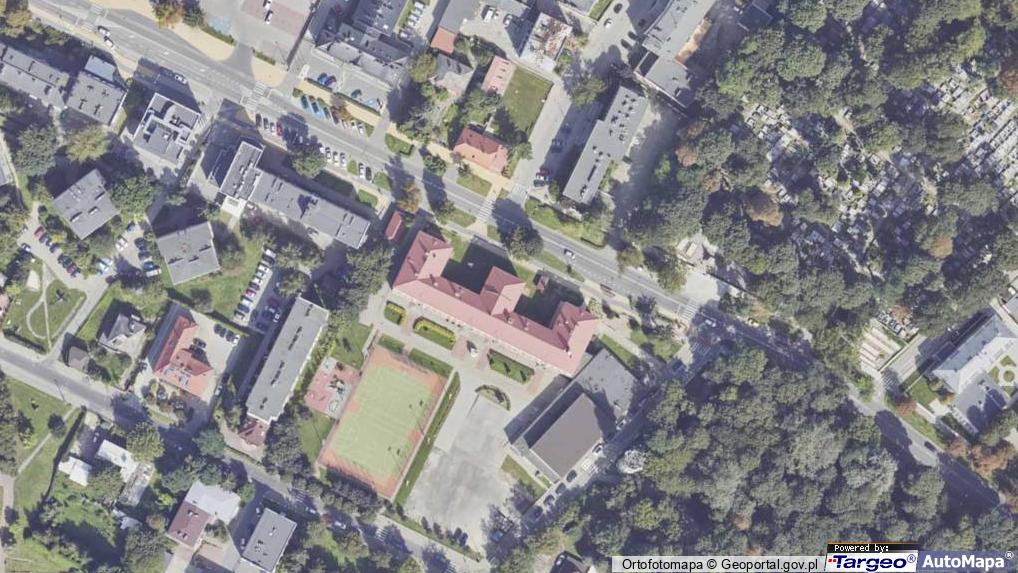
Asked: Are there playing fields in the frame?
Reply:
Yes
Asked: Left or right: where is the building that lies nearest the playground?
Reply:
left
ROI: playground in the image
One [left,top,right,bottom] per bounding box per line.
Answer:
[305,357,361,418]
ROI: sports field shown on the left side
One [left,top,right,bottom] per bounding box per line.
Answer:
[329,359,437,487]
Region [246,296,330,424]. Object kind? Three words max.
building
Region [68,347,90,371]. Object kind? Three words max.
house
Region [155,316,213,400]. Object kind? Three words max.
house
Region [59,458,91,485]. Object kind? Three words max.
shed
